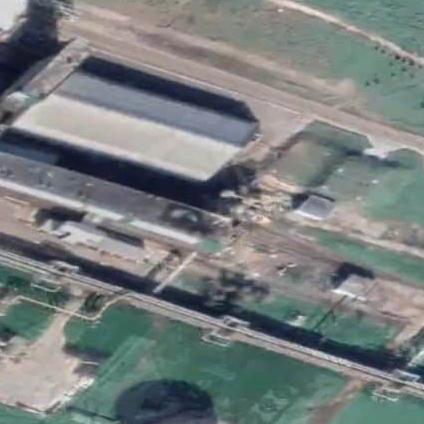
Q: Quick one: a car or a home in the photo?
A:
home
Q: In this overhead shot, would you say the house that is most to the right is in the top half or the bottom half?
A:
bottom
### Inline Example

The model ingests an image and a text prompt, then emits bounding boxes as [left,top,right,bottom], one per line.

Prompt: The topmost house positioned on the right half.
[295,195,336,220]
